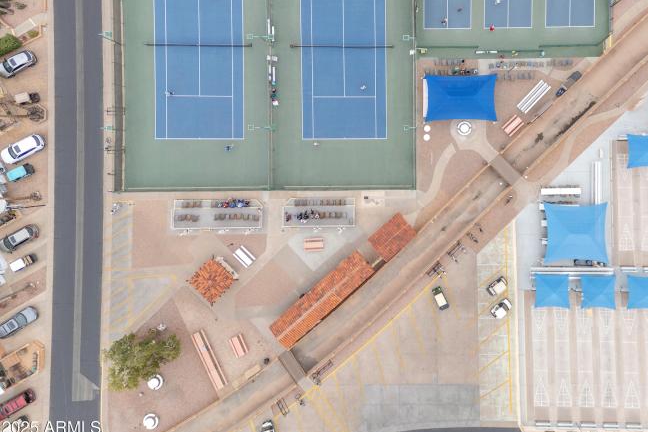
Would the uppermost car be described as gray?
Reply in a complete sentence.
Yes, the uppermost car is indeed gray.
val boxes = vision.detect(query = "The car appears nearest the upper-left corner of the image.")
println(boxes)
[0,47,34,77]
